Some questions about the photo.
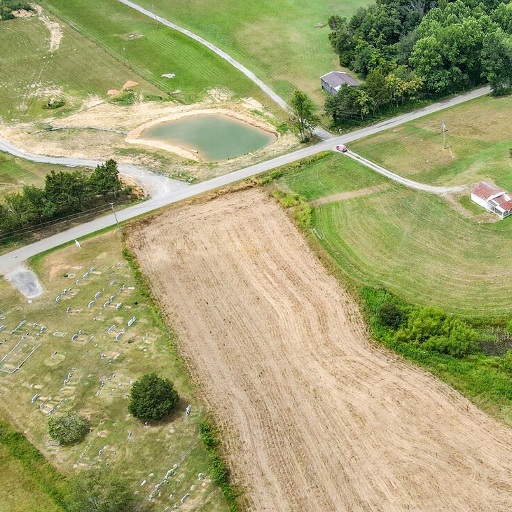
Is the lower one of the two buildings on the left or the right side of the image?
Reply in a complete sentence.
It is on the right.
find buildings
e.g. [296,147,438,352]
[318,70,359,98]
[466,179,512,219]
